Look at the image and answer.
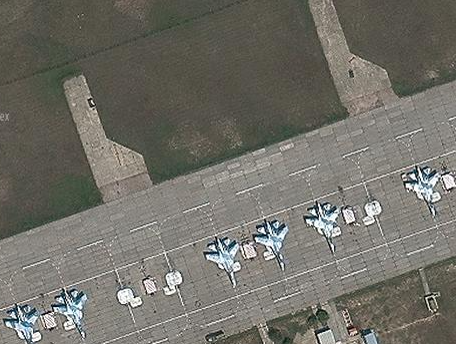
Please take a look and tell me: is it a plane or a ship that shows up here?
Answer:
plane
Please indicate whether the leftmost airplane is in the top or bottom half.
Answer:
bottom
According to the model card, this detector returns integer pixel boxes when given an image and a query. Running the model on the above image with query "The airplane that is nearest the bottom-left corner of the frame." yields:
[3,304,40,344]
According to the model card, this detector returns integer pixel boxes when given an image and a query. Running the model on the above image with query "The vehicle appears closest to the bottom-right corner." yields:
[341,308,358,338]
